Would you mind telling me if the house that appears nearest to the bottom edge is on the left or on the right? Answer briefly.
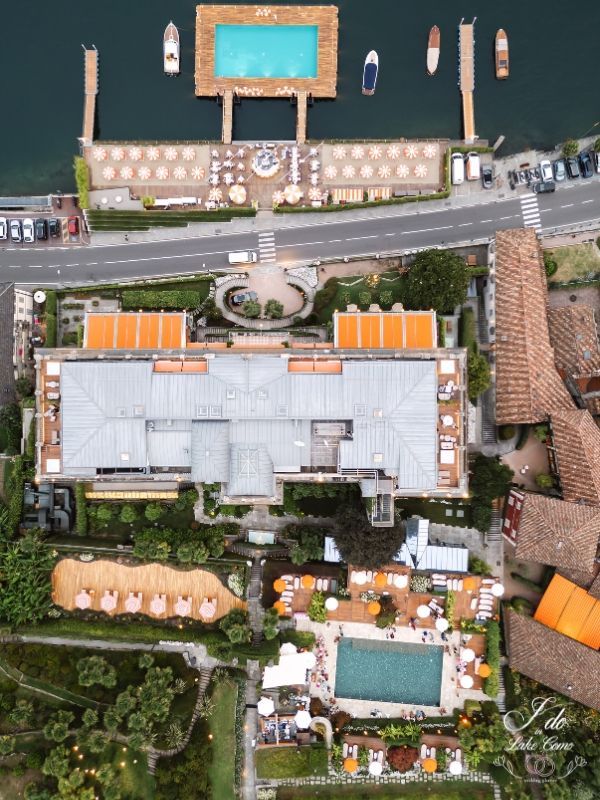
right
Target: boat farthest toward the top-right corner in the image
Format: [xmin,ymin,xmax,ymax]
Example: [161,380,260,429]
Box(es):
[495,28,509,81]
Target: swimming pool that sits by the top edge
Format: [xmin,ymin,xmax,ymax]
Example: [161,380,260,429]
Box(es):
[195,5,337,102]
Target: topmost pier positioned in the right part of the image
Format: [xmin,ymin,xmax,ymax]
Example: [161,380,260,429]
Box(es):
[459,14,477,145]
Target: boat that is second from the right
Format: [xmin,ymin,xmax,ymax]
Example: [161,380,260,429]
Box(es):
[427,24,440,77]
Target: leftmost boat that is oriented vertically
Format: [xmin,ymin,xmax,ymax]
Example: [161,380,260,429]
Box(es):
[163,20,179,77]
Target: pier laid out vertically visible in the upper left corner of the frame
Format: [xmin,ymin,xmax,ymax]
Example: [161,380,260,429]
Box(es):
[80,42,99,145]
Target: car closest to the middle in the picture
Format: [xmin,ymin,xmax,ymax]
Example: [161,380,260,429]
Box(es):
[230,290,257,305]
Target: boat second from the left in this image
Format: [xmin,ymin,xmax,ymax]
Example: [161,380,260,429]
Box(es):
[362,49,378,98]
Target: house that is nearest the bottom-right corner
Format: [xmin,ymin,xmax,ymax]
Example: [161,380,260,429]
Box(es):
[501,603,600,712]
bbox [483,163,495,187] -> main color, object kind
gray vehicle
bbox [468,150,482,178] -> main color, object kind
white vehicle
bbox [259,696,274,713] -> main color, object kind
white umbrella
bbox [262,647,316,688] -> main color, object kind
white tent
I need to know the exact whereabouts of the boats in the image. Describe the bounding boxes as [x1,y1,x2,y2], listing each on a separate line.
[163,20,179,77]
[427,24,440,77]
[495,28,509,81]
[362,49,378,98]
